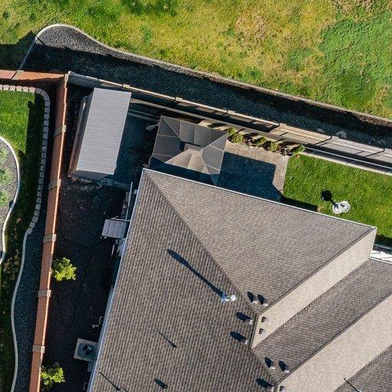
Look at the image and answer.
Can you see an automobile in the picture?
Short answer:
No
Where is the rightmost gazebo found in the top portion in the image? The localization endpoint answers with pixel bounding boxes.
[136,114,229,186]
